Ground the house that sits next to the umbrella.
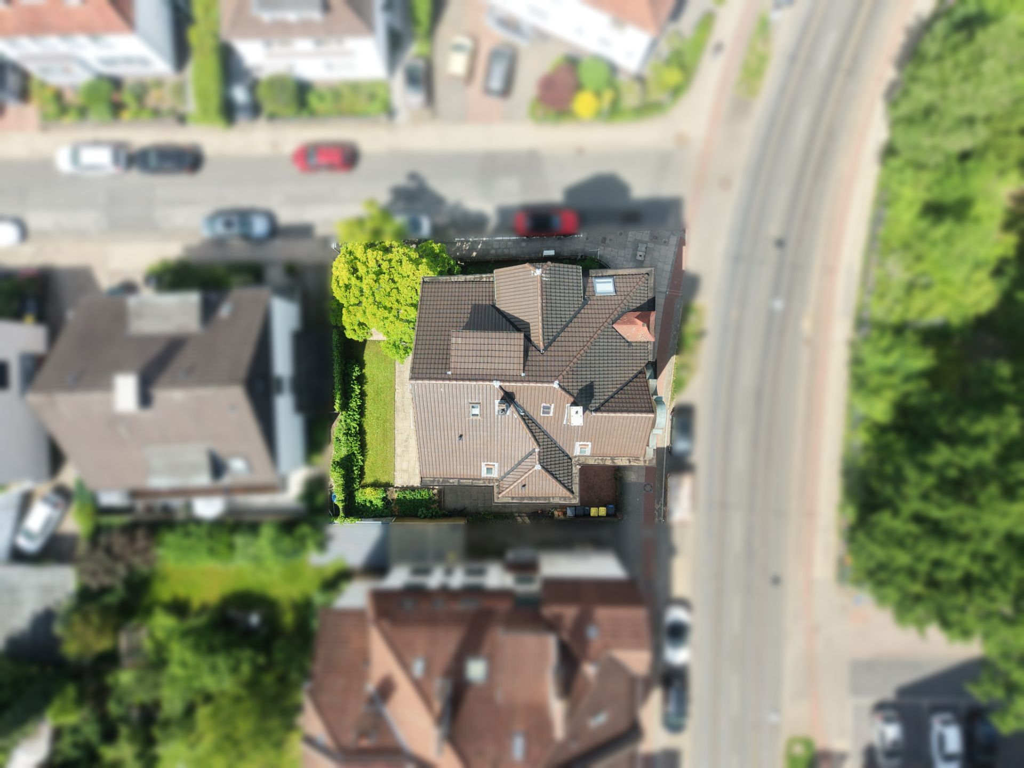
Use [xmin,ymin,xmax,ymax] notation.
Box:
[32,287,311,506]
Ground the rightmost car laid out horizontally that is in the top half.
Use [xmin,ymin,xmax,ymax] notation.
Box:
[514,207,580,238]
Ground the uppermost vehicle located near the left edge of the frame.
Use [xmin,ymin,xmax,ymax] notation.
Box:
[0,60,26,117]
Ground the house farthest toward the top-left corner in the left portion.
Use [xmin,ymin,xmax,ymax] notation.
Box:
[0,0,171,84]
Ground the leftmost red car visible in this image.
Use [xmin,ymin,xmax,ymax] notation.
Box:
[294,142,360,175]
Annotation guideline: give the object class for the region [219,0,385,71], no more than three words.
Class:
house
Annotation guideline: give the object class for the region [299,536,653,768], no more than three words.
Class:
house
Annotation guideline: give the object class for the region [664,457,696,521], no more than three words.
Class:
trailer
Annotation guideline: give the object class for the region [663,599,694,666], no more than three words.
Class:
car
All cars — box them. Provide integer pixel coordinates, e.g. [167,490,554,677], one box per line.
[663,599,694,666]
[294,142,360,175]
[660,666,691,732]
[869,705,903,768]
[60,143,130,175]
[514,207,580,238]
[28,489,70,557]
[486,42,516,102]
[379,212,438,241]
[668,402,698,457]
[0,60,26,117]
[205,209,275,240]
[0,217,27,248]
[137,143,205,176]
[447,34,476,83]
[926,706,964,768]
[227,65,258,127]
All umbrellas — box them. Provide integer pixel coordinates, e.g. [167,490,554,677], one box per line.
[192,496,226,523]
